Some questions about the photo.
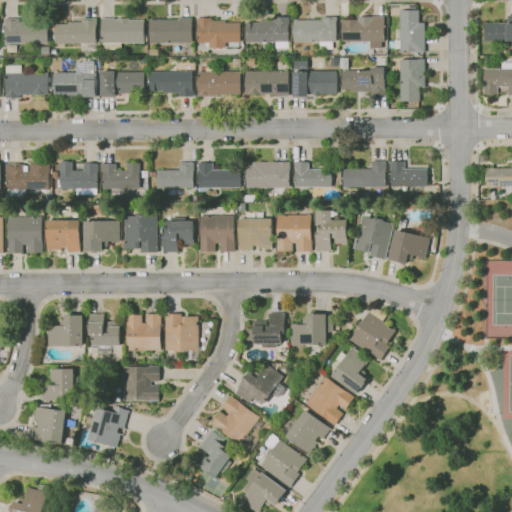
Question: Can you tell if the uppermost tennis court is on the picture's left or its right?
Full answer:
The uppermost tennis court sits on the right side.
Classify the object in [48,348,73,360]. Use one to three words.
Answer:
swimming pool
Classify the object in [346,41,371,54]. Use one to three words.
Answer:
swimming pool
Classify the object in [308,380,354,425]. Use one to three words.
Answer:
house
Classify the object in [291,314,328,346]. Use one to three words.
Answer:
house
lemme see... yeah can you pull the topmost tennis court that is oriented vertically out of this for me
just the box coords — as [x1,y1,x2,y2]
[486,260,512,338]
